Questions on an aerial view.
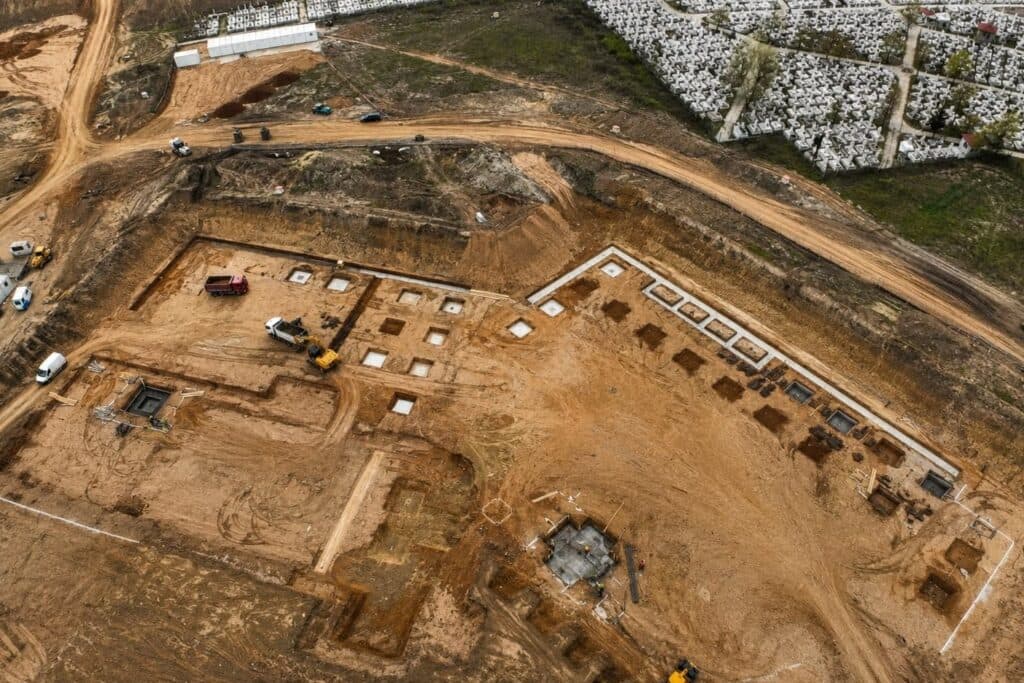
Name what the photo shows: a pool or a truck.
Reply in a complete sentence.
Of the two, only a truck appears.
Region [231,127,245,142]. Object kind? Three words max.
work vehicle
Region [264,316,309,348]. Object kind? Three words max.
truck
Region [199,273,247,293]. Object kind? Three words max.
vehicle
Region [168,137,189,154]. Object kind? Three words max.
vehicle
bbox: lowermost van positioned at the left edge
[29,348,68,385]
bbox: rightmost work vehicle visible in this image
[664,658,703,683]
